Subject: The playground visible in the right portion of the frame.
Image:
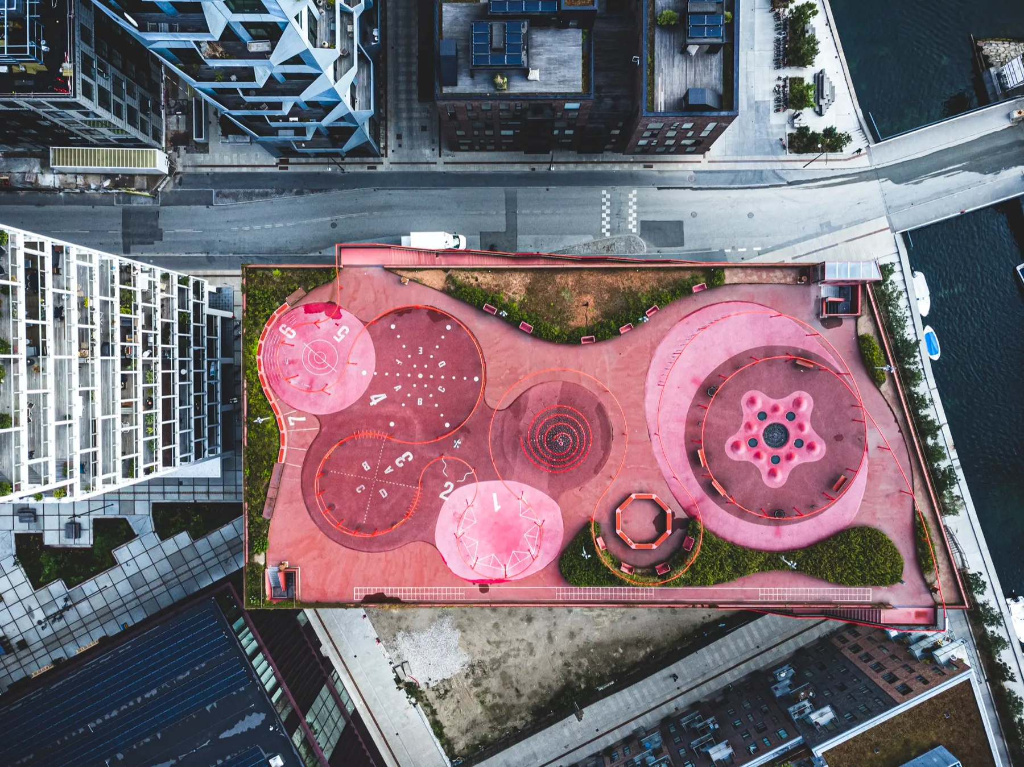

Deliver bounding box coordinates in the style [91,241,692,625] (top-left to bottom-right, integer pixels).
[725,392,826,489]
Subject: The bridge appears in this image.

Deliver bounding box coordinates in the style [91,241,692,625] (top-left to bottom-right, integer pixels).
[761,94,1024,233]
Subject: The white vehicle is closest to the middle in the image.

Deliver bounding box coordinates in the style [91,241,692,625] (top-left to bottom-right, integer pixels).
[401,231,467,252]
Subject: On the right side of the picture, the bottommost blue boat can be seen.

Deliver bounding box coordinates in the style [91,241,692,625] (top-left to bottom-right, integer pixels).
[925,326,940,361]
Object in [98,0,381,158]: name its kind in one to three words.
house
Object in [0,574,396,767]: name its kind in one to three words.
building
